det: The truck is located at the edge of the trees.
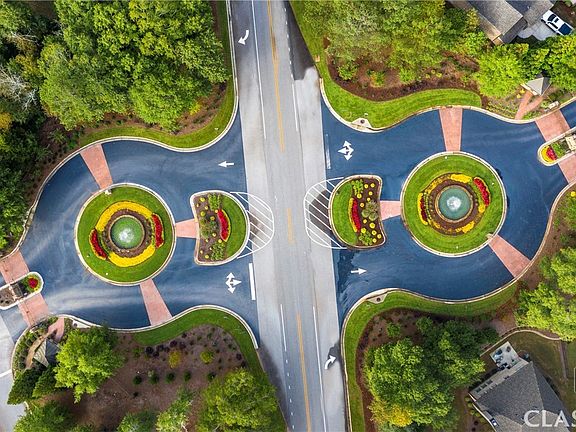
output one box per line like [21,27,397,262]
[542,9,574,38]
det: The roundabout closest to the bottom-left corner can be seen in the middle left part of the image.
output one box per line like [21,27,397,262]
[0,94,258,347]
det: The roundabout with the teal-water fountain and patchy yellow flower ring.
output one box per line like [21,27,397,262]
[320,76,576,338]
